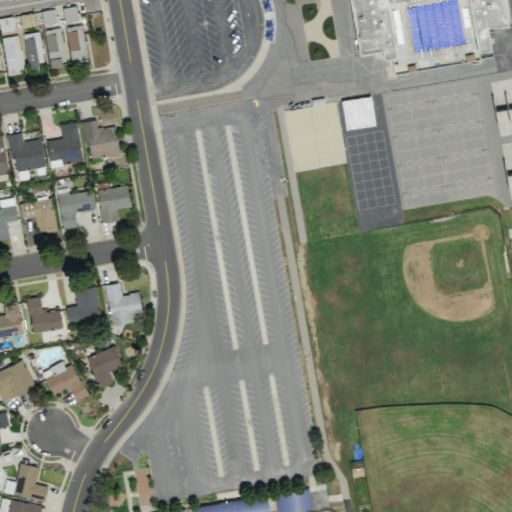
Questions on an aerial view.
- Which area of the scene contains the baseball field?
right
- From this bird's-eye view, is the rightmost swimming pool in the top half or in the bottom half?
bottom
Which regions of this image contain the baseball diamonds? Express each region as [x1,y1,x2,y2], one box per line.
[388,208,511,350]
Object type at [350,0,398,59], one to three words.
building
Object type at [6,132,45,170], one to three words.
house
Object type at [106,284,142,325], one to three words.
house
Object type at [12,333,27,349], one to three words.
swimming pool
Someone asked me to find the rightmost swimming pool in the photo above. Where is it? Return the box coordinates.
[36,346,64,368]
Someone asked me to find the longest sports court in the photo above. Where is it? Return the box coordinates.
[338,93,404,230]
